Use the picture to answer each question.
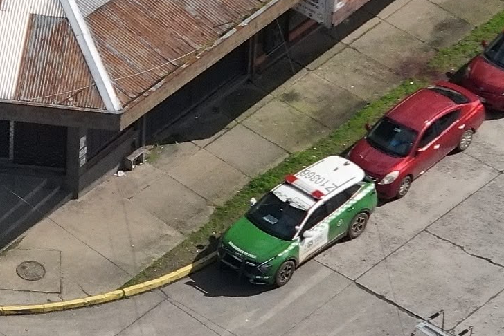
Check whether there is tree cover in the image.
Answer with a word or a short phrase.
No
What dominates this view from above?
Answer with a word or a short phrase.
paved ground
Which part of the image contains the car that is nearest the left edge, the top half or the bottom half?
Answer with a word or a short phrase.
bottom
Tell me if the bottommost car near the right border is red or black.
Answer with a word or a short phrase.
red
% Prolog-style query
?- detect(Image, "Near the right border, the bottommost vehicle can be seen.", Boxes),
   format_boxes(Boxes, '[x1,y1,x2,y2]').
[342,85,482,202]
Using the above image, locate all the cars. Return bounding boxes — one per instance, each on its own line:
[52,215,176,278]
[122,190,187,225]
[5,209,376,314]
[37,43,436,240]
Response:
[342,85,482,202]
[461,32,504,113]
[214,161,379,290]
